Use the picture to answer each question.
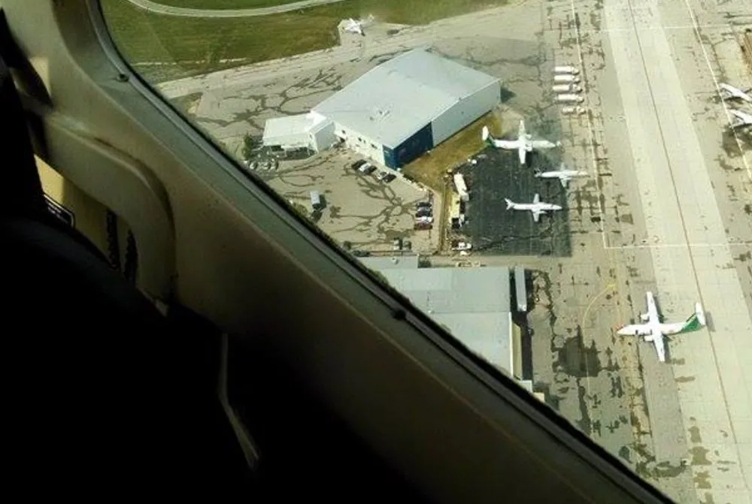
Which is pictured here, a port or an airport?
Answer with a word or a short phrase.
airport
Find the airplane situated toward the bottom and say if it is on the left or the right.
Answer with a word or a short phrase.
right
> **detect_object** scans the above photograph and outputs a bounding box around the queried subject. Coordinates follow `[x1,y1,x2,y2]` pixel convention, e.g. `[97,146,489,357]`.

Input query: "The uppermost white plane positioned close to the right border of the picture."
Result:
[719,81,752,103]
